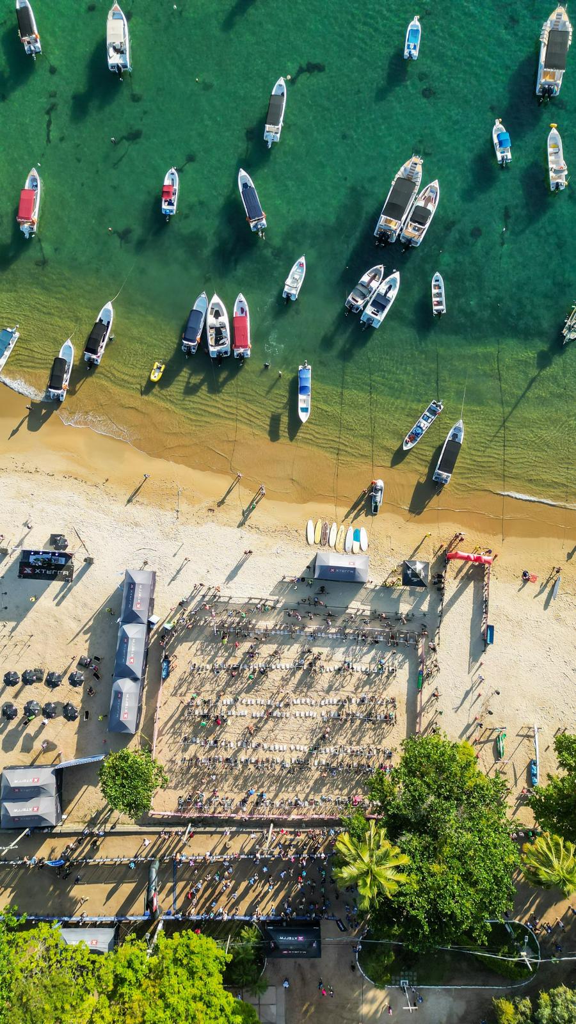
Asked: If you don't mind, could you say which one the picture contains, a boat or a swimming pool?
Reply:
boat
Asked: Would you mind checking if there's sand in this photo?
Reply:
Yes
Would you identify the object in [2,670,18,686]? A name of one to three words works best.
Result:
umbrella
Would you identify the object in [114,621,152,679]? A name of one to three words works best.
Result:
tent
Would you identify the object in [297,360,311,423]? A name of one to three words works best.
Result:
boat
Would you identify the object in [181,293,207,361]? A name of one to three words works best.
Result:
boat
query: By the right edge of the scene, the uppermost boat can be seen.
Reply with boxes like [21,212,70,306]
[537,0,574,106]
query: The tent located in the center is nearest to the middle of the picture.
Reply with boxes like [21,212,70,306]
[314,551,368,582]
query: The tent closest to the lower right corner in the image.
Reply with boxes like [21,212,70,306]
[267,914,320,957]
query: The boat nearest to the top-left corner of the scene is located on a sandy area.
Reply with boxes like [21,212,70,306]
[13,0,42,62]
